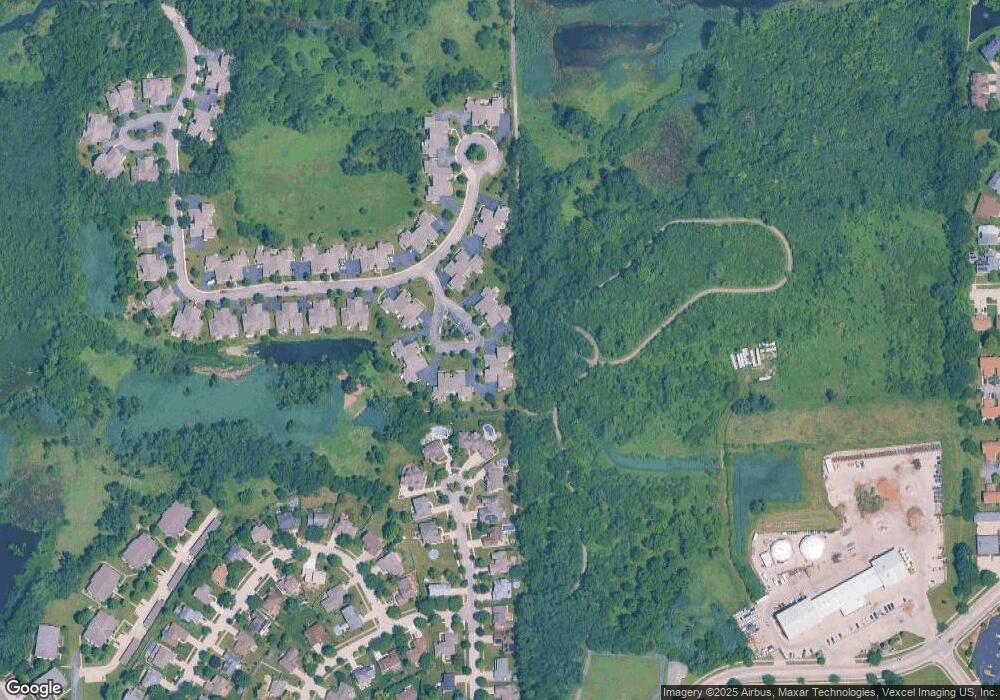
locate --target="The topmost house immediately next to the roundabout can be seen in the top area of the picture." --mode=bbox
[467,95,504,124]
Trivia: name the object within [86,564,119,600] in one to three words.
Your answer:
building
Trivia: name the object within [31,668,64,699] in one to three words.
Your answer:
building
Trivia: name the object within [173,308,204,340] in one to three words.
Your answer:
house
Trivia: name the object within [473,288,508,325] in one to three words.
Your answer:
house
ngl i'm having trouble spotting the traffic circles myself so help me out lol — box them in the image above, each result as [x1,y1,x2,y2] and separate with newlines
[454,129,500,174]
